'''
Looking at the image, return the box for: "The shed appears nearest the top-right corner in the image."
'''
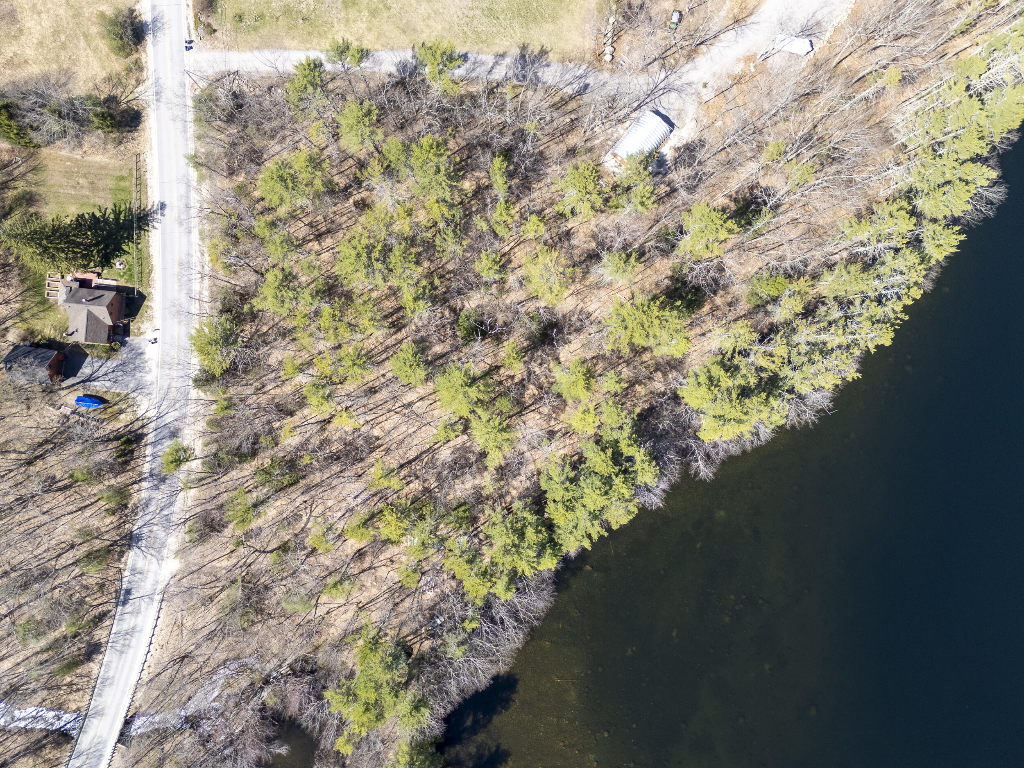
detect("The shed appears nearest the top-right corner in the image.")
[607,104,669,168]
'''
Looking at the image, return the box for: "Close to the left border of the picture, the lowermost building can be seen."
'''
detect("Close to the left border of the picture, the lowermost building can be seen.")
[3,346,66,387]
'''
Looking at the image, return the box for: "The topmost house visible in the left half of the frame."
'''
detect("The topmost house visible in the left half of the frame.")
[62,270,130,346]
